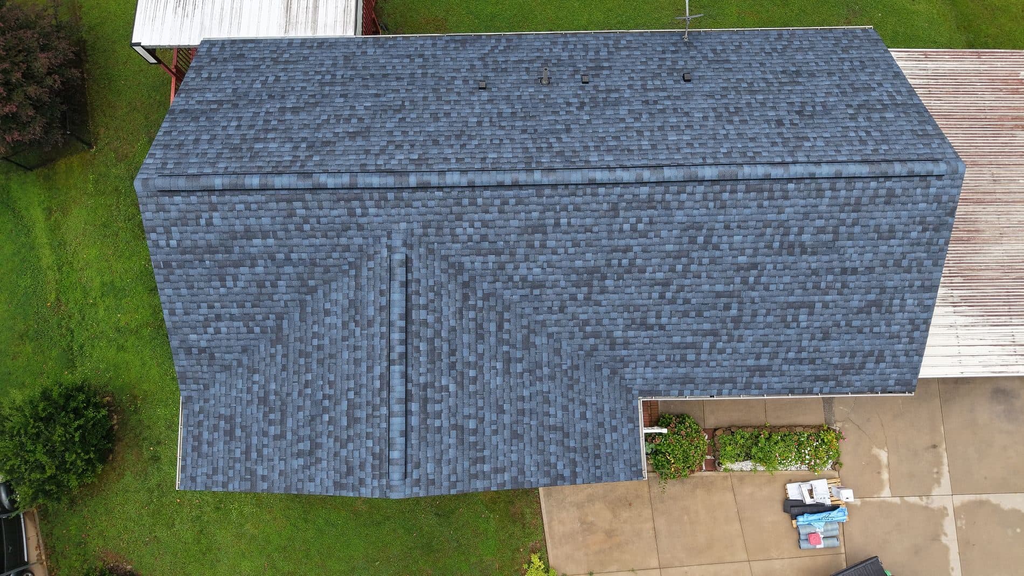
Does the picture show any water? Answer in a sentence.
No, there is no water in the image.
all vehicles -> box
[833,557,887,576]
[0,500,36,576]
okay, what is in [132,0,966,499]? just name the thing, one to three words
house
